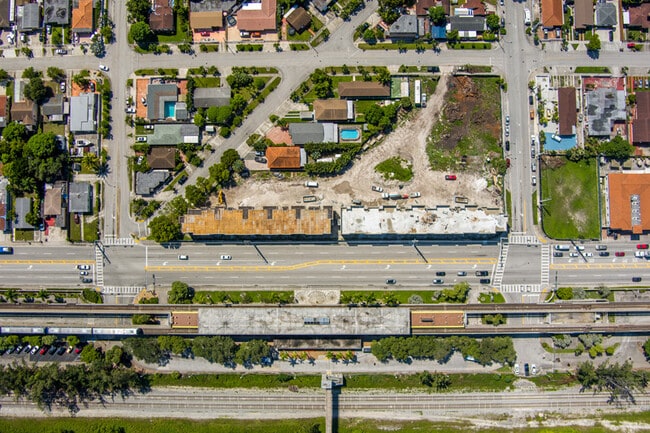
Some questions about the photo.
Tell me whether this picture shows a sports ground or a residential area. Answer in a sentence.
It's a residential area.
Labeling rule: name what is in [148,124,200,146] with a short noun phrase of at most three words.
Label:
house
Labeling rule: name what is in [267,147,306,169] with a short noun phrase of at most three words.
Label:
house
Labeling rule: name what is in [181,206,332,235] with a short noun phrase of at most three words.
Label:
building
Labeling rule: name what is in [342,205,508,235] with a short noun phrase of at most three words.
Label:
building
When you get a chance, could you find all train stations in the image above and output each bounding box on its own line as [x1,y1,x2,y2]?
[169,306,467,335]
